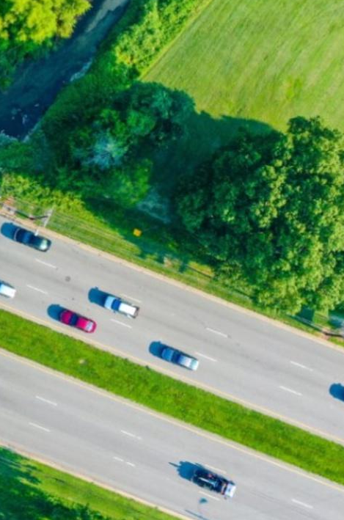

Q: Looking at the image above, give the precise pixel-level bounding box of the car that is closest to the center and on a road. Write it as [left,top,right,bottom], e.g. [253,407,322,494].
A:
[102,294,141,320]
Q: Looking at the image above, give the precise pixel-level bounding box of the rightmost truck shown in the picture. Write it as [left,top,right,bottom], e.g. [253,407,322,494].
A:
[186,467,240,499]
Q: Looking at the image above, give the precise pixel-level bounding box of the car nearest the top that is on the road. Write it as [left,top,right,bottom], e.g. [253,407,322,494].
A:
[10,226,50,251]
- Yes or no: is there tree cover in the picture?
Yes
